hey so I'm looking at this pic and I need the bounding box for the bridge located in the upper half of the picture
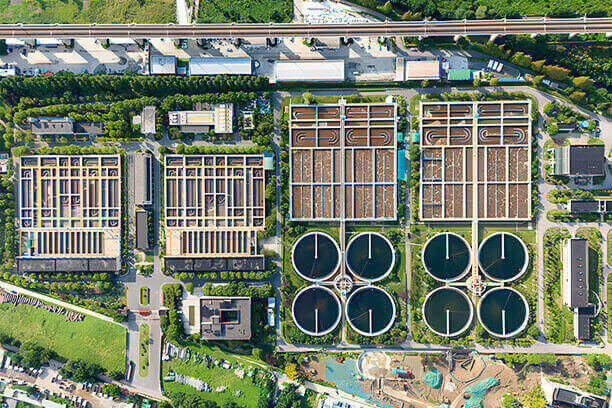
[0,15,612,45]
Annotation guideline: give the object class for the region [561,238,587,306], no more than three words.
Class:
building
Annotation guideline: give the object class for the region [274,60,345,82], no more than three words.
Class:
shed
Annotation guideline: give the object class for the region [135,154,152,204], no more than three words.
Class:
building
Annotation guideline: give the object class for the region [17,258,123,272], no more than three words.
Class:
house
